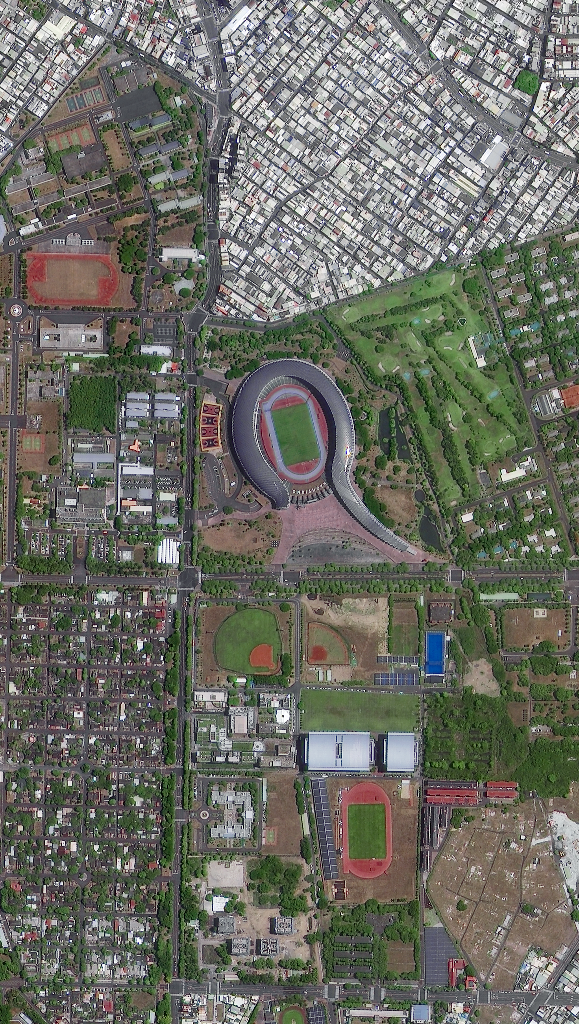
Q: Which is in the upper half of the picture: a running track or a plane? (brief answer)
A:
running track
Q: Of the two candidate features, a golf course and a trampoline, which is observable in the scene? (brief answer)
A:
golf course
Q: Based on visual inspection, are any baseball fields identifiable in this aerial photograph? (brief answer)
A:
Yes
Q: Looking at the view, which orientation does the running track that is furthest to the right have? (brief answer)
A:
vertically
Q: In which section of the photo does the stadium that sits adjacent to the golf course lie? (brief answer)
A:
center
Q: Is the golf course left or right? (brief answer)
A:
right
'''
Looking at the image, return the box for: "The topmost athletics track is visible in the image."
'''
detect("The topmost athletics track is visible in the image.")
[27,252,119,305]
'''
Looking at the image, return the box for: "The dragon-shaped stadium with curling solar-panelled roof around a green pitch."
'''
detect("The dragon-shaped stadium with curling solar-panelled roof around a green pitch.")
[232,358,417,555]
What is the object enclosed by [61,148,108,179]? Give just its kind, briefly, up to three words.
building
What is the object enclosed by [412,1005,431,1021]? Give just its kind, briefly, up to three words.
shed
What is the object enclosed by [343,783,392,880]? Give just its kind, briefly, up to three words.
running track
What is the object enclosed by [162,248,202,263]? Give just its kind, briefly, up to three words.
building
